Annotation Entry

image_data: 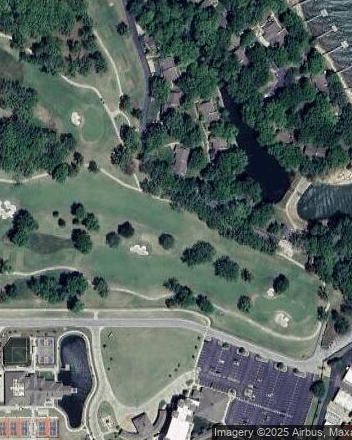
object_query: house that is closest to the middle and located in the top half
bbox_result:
[170,144,190,173]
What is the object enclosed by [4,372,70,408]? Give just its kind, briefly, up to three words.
building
